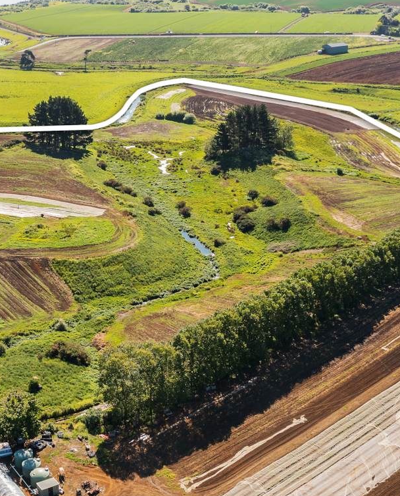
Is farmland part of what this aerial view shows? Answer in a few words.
Yes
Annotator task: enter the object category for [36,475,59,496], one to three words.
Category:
shed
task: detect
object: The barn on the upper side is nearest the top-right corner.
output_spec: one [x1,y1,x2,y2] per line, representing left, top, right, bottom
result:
[316,41,353,55]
